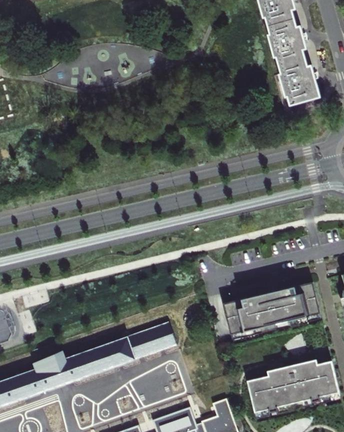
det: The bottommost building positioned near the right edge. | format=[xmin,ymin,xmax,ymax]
[248,359,340,418]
